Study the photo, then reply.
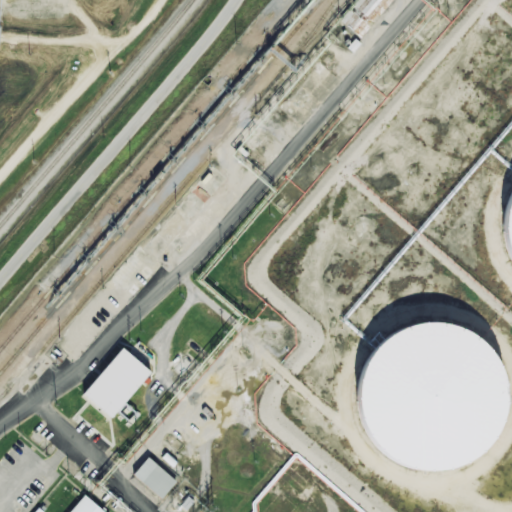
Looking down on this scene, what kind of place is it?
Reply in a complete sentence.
The picture captures an industrial area.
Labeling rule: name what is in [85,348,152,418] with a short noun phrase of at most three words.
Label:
building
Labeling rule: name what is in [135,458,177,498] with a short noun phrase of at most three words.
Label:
building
